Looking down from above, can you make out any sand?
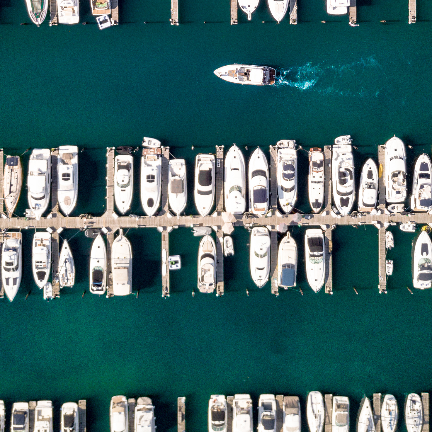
No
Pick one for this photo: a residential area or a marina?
marina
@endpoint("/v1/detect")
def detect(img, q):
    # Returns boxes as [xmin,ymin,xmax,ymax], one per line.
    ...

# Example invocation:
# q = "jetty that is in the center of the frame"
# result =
[0,144,432,299]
